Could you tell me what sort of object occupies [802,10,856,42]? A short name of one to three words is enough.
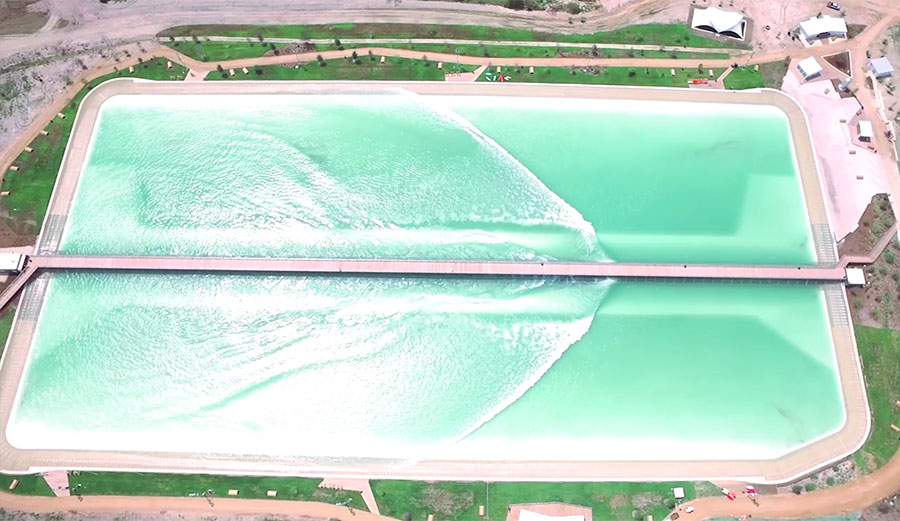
building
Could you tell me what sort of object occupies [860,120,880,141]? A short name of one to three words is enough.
shed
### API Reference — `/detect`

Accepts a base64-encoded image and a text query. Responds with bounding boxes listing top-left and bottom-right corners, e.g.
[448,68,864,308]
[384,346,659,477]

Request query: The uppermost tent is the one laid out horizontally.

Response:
[691,11,748,42]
